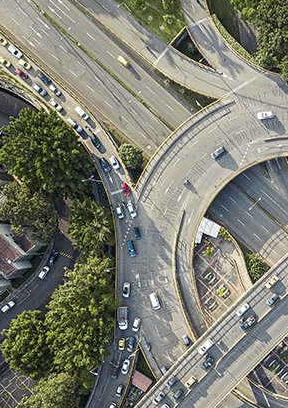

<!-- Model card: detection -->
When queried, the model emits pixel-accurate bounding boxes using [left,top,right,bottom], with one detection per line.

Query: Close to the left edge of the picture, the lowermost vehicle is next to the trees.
[1,300,16,313]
